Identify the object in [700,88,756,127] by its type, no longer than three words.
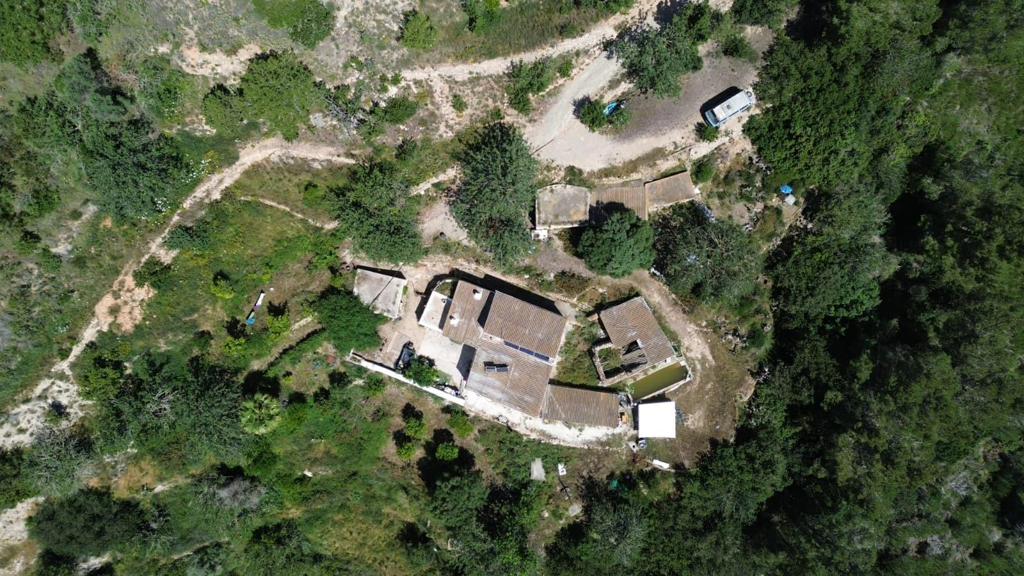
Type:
van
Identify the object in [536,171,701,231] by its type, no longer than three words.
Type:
shed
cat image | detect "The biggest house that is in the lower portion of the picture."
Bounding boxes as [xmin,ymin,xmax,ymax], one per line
[419,279,619,428]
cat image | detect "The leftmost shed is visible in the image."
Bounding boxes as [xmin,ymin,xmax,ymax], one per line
[353,268,409,319]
